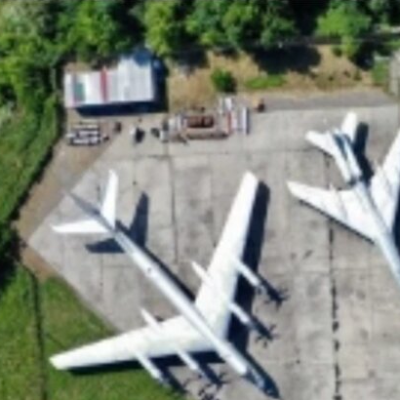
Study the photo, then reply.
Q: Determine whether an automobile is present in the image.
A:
No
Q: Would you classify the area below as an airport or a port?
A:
airport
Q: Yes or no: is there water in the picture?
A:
No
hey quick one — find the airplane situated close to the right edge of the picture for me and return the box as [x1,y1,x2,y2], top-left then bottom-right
[288,109,400,285]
